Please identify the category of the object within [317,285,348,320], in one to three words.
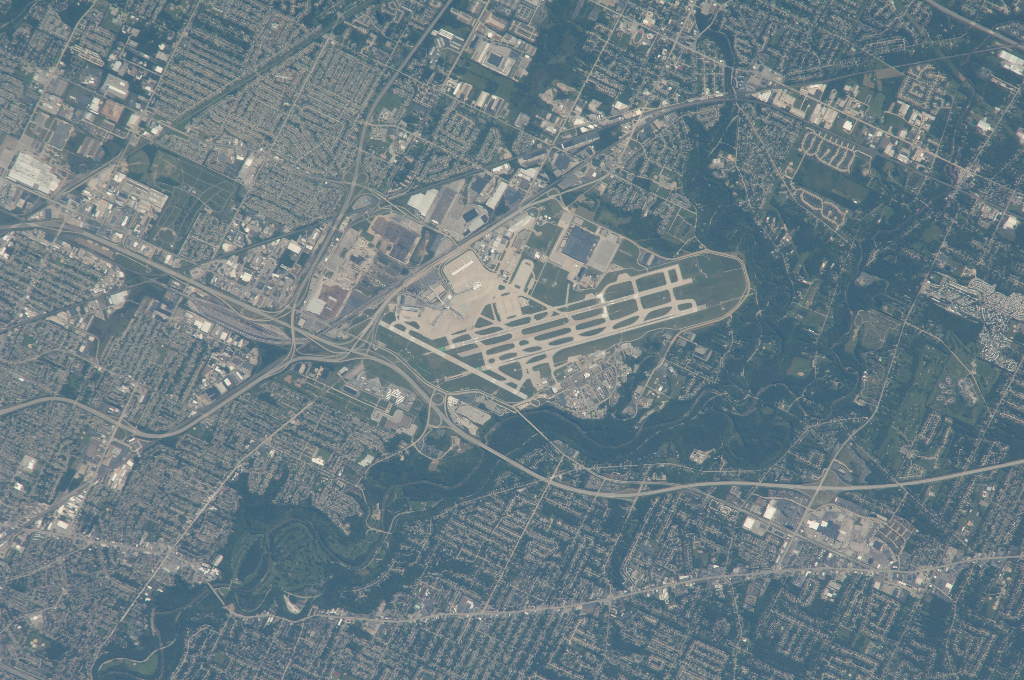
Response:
building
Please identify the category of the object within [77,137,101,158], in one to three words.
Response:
building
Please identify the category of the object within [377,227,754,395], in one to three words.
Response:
airport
